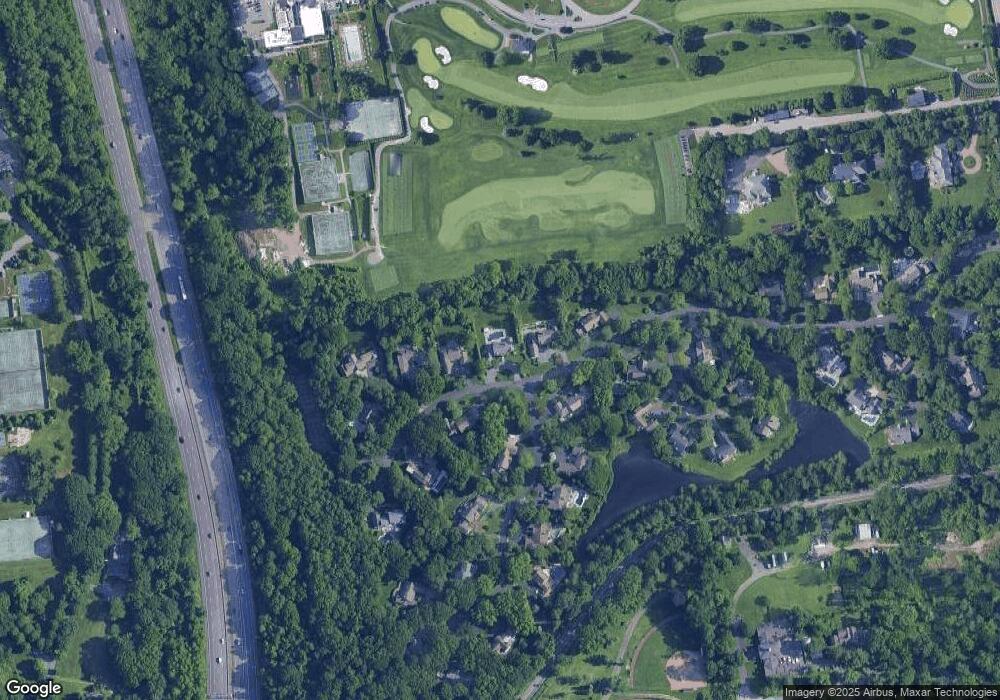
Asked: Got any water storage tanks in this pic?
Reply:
No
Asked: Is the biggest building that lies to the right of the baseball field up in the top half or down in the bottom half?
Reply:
bottom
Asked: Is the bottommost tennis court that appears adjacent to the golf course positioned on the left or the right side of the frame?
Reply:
left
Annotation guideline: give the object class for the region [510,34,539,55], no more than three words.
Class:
building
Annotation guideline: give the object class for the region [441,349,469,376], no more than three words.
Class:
house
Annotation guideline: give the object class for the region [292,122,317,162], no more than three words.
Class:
sports court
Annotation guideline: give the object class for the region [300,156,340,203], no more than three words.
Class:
tennis court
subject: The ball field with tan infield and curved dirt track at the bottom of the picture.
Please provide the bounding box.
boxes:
[630,593,710,693]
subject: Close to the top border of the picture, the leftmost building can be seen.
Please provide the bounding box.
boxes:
[263,0,324,47]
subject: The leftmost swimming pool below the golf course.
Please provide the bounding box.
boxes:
[484,329,507,344]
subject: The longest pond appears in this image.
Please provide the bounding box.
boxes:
[579,338,867,573]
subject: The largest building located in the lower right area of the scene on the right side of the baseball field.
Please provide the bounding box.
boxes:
[757,625,803,678]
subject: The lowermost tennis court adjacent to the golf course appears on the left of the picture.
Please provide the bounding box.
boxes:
[312,212,353,254]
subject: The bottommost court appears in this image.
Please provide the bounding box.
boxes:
[0,516,51,561]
